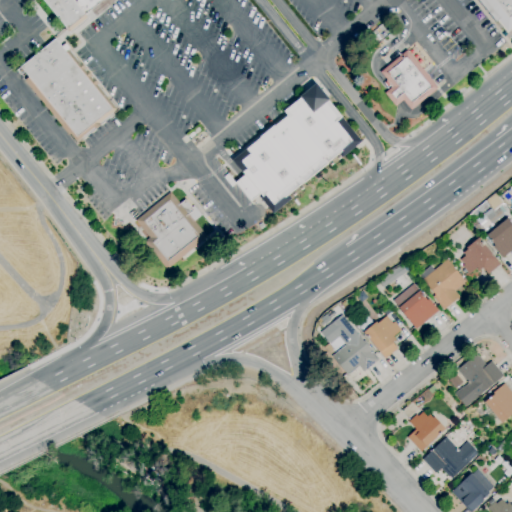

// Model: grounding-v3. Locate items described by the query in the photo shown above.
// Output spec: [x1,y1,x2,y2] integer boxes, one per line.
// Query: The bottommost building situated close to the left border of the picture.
[22,35,116,142]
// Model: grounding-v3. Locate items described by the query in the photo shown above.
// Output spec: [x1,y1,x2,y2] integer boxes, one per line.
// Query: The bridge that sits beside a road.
[0,363,94,478]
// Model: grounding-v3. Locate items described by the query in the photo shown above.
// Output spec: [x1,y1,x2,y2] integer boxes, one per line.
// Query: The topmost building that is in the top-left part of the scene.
[45,0,114,32]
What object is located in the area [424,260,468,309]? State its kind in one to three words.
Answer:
house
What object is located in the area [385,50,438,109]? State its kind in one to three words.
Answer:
building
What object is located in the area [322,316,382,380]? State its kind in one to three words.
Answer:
house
